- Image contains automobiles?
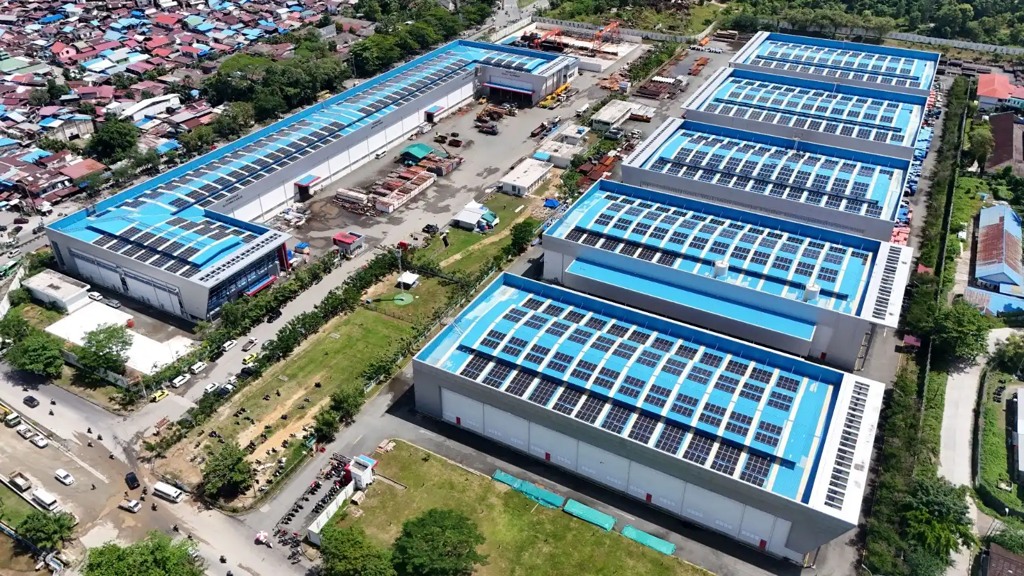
Yes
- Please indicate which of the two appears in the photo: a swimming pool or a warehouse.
warehouse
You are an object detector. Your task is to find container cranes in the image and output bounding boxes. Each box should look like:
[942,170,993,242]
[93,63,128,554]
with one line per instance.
[591,8,623,50]
[532,16,565,48]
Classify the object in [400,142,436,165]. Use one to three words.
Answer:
shed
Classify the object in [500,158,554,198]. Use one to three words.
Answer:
building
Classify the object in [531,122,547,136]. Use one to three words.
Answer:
vehicle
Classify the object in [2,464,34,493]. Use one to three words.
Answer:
truck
